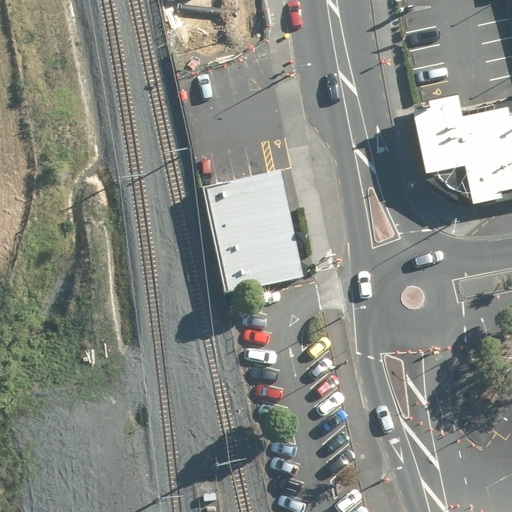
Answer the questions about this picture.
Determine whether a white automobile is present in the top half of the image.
Yes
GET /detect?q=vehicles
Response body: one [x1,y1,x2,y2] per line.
[270,458,300,476]
[242,315,268,329]
[324,428,350,454]
[242,330,271,344]
[358,270,372,300]
[244,348,278,365]
[249,368,278,383]
[257,404,285,417]
[314,374,341,398]
[308,356,334,380]
[318,409,348,435]
[197,73,213,100]
[406,30,440,46]
[333,488,364,512]
[414,250,445,266]
[354,504,370,512]
[264,291,282,305]
[287,0,302,28]
[254,386,284,400]
[200,159,214,184]
[326,73,340,102]
[277,494,308,512]
[327,448,356,476]
[316,391,346,417]
[306,336,332,360]
[416,68,449,84]
[377,404,394,435]
[270,443,298,457]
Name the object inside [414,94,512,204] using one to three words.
building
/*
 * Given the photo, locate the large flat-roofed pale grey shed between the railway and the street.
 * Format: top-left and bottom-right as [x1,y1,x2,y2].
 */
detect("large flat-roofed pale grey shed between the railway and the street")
[204,171,310,294]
